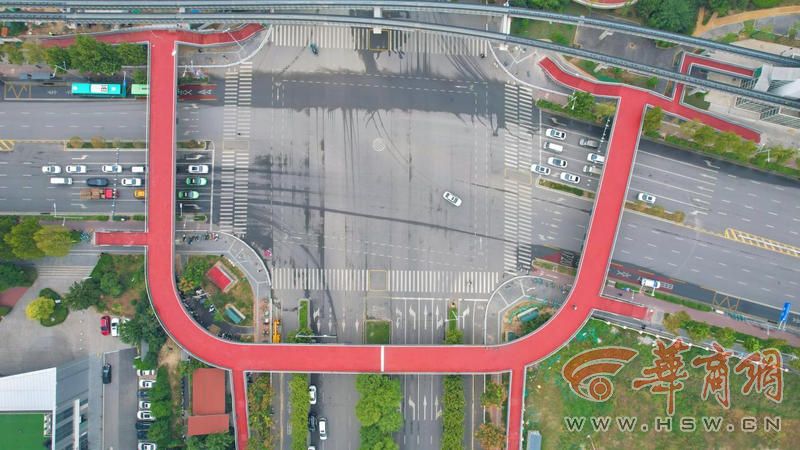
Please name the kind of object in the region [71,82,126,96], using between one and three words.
vehicle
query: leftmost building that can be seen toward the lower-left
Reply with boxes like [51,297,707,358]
[0,355,87,450]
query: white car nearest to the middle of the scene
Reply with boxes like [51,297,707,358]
[442,191,462,206]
